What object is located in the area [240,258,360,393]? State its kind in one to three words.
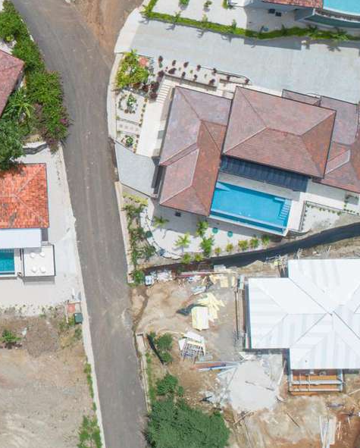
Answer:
house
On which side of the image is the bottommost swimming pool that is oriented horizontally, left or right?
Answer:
right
